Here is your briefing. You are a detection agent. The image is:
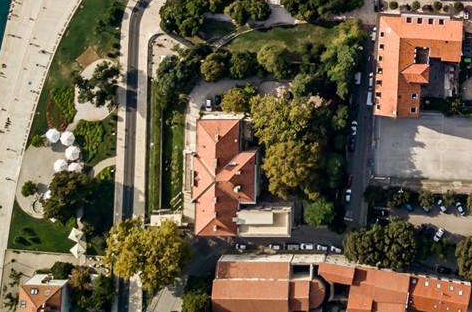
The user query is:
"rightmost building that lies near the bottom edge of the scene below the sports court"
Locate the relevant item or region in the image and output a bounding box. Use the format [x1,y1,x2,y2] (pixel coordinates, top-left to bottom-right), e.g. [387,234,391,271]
[403,269,471,312]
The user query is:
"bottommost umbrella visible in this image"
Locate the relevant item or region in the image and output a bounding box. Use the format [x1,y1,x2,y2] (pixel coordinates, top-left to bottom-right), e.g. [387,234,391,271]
[69,242,86,259]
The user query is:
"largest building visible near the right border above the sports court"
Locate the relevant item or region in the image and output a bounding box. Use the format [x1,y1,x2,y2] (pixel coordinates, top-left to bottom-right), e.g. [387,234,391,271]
[372,13,461,117]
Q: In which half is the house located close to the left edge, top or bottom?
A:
bottom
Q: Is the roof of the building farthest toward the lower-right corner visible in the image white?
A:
No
